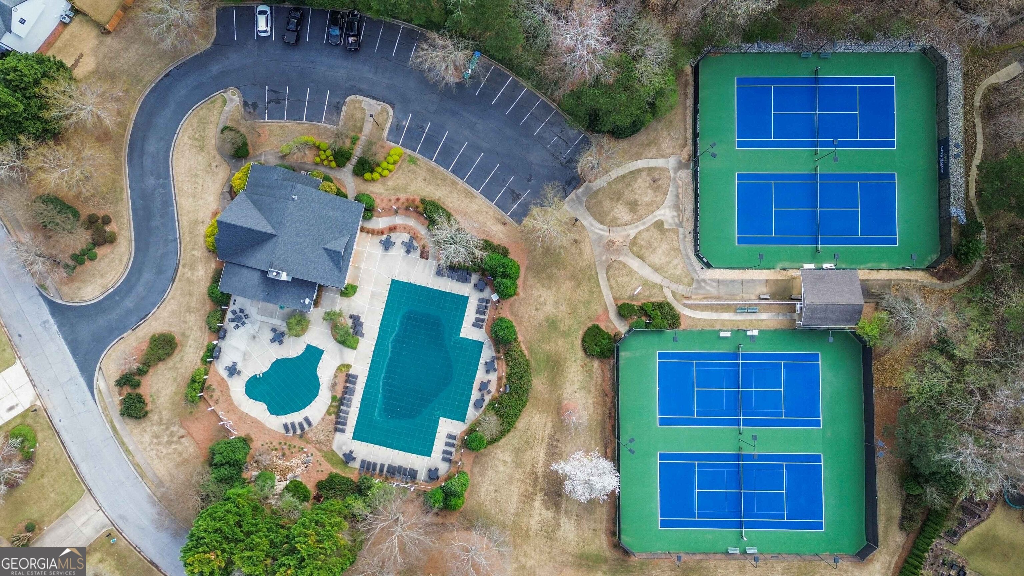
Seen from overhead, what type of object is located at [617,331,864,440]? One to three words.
tennis court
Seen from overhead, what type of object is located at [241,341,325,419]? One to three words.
swimming pool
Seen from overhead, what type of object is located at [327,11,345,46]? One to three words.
car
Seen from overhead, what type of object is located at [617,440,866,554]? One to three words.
tennis court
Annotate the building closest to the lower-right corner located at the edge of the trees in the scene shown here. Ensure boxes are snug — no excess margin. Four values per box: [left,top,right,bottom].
[795,268,864,329]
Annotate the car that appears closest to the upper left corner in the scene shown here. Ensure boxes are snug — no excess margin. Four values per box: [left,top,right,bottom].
[255,5,273,37]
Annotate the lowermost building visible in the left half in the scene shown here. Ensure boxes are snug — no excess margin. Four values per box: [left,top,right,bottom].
[215,162,366,313]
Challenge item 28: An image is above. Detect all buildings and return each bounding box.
[215,162,366,313]
[795,268,864,329]
[0,0,82,56]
